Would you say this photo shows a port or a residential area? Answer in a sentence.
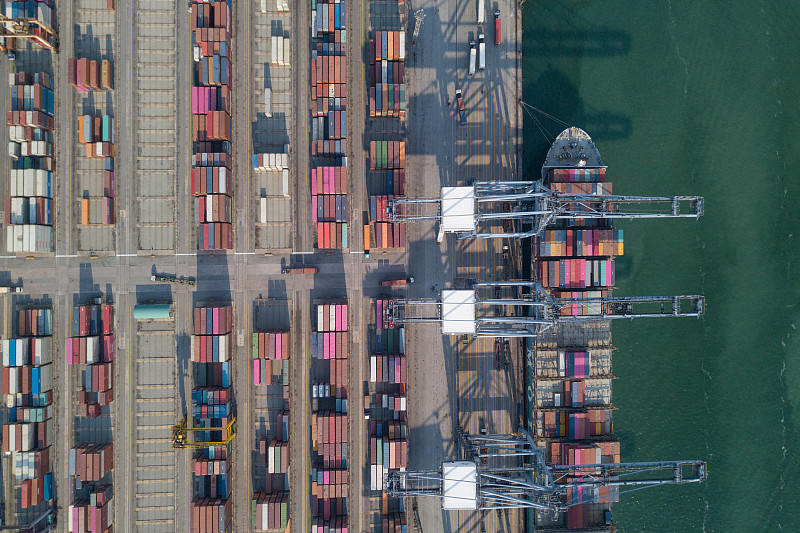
The area seen from above is a port.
